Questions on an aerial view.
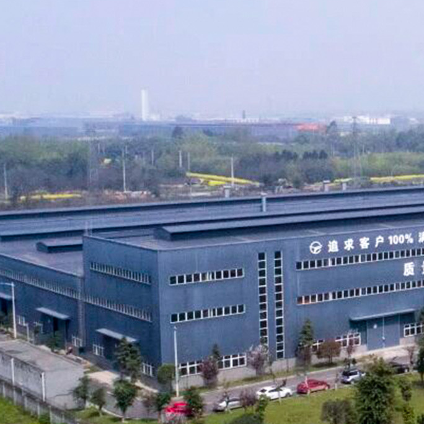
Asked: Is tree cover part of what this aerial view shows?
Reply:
Yes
